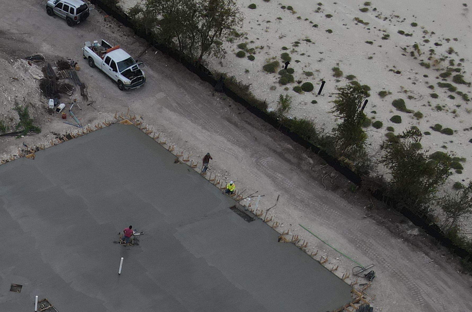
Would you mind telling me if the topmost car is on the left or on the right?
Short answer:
left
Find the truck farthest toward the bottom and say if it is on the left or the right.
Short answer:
left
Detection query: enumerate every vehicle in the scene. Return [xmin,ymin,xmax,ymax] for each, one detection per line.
[82,40,148,91]
[45,0,91,27]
